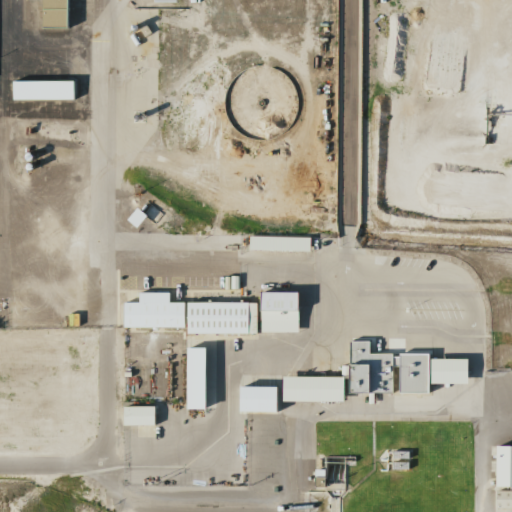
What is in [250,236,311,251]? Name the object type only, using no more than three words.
shed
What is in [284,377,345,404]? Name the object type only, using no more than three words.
building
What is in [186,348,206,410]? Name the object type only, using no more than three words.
barn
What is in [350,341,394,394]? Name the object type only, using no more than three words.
building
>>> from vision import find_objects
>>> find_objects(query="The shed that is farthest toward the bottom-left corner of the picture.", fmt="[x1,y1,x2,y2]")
[123,407,156,426]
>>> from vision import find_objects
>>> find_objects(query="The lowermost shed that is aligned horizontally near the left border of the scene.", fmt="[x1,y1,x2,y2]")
[12,80,75,100]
